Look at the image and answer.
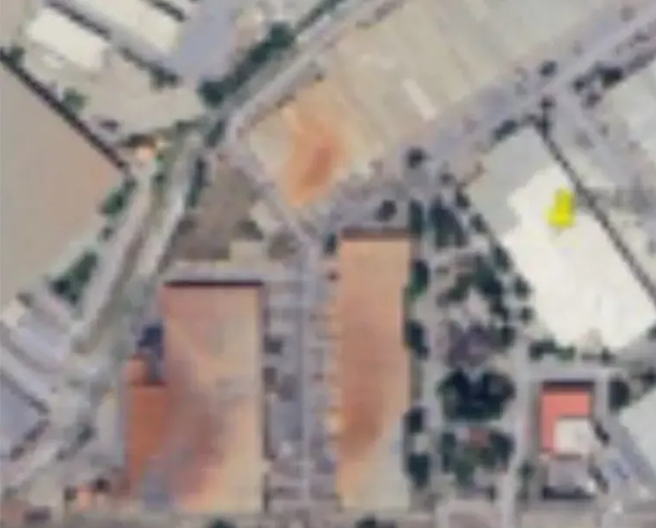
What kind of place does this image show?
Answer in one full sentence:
What you see here is an industrial area.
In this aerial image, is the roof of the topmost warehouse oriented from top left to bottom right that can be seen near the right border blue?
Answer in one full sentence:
No, the color of the roof of the topmost warehouse oriented from top left to bottom right that can be seen near the right border is white.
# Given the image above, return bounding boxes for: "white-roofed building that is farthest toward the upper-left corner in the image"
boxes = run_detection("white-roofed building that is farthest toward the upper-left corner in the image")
[24,2,111,69]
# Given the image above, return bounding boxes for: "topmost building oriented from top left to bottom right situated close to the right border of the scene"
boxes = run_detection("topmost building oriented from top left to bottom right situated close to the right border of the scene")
[467,128,656,353]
